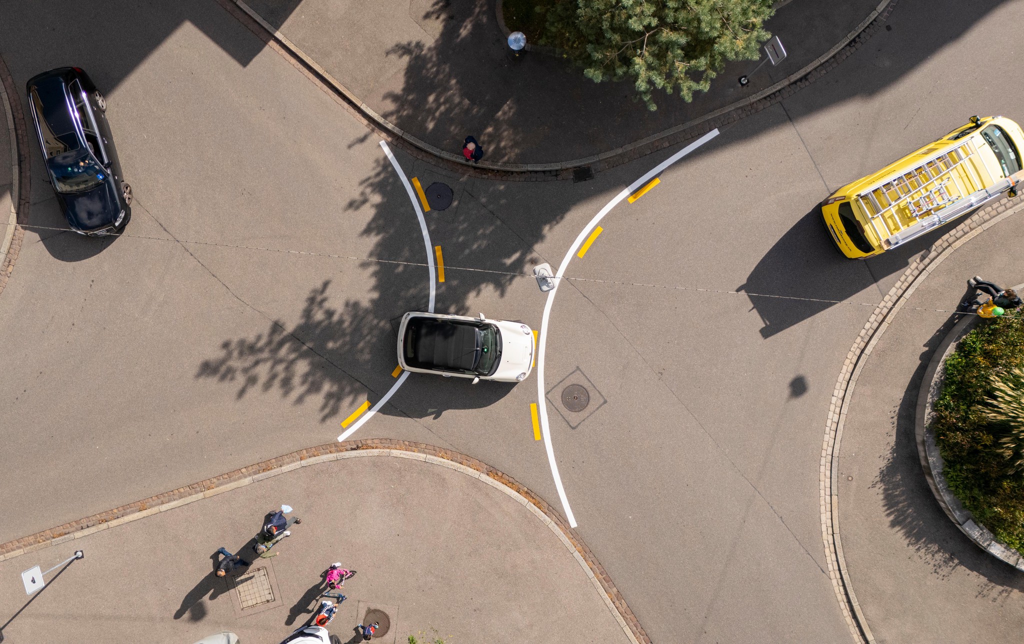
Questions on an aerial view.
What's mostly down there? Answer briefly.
paved ground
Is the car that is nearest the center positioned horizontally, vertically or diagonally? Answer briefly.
horizontally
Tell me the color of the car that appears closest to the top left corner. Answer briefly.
black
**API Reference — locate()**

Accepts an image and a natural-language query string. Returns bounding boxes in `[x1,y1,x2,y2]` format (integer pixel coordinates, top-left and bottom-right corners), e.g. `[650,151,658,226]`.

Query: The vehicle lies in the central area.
[398,312,533,383]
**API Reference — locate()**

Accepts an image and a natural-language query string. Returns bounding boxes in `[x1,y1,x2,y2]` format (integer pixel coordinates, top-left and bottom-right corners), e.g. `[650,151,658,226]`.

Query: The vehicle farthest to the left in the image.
[24,65,134,237]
